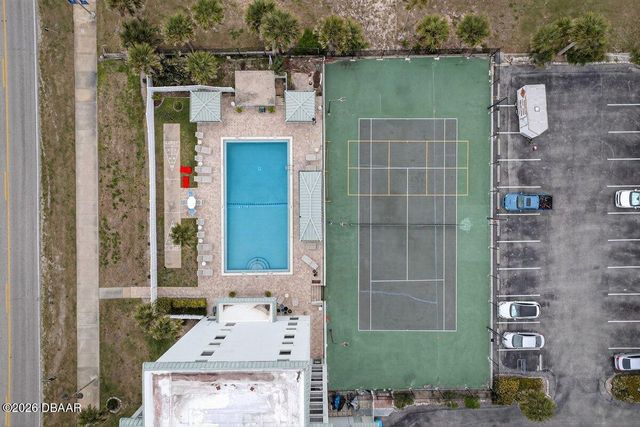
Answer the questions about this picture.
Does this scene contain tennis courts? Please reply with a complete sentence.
Yes, there's a tennis court here.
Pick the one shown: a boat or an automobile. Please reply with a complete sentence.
Looking from above, you can make out an automobile.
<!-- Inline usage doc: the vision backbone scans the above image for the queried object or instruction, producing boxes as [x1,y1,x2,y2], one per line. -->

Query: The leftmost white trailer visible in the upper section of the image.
[519,84,549,148]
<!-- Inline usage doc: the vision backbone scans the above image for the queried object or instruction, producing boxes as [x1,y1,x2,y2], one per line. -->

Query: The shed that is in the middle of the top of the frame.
[235,71,276,108]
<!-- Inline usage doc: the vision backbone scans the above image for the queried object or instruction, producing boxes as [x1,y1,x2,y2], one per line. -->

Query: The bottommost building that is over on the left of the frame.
[114,294,338,427]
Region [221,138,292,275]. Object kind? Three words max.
swimming pool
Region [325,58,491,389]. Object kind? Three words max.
tennis court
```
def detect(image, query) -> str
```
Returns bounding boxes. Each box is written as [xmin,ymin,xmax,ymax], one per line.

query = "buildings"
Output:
[114,294,338,427]
[235,71,276,108]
